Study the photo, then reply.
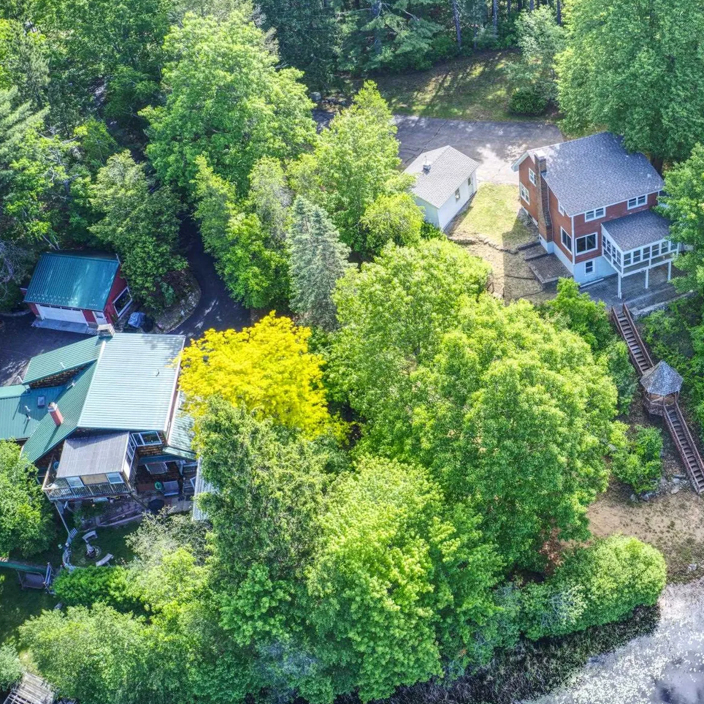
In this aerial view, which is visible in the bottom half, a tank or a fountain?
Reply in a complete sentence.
It is a fountain that can be seen in the bottom half.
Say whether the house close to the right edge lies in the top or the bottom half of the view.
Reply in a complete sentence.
The house close to the right edge sits in the top half of the picture.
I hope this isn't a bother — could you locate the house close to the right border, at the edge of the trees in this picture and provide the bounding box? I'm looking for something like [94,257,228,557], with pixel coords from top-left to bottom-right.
[512,127,682,298]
